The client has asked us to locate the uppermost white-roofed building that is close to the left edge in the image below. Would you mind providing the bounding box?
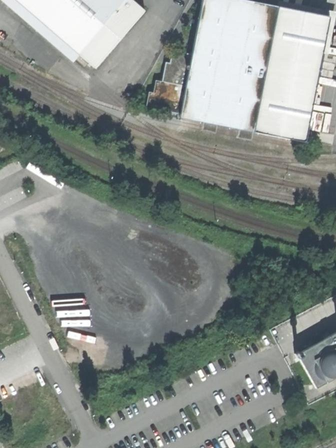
[2,0,103,60]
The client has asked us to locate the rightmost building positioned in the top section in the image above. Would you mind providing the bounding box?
[256,4,330,139]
